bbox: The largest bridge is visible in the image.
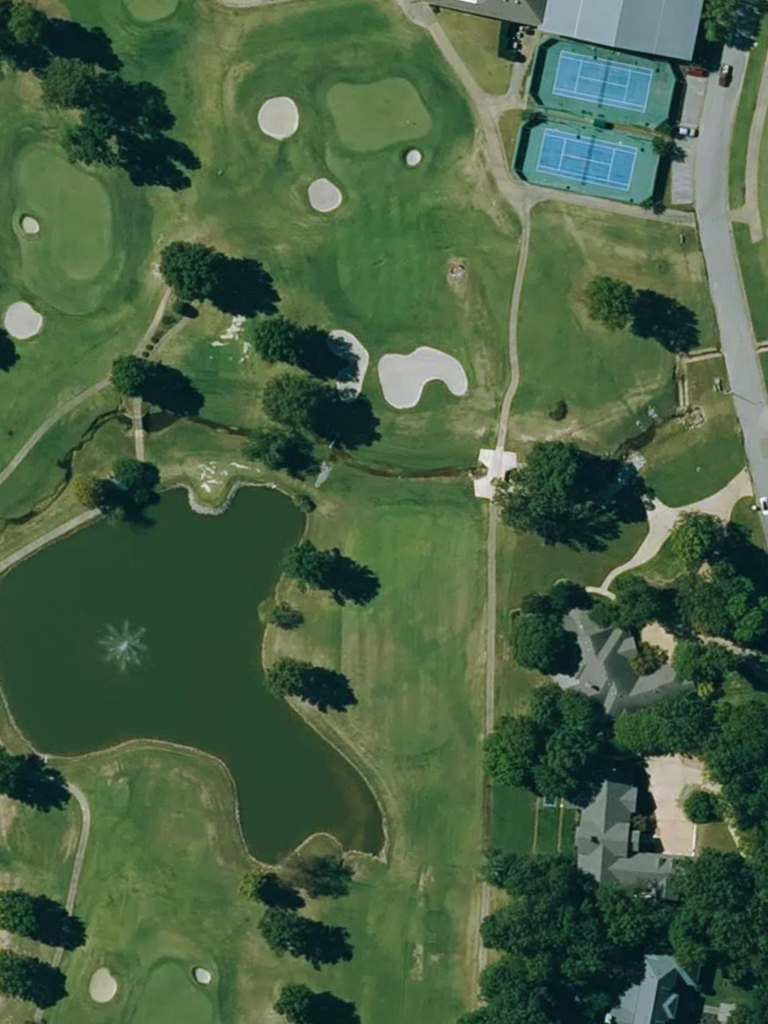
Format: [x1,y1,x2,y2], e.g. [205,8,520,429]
[474,448,513,500]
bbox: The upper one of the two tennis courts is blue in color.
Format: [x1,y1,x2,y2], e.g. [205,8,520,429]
[528,35,679,130]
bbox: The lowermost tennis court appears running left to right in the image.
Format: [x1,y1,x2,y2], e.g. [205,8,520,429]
[512,117,661,205]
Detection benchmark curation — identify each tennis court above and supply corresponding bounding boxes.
[512,117,661,205]
[528,35,679,130]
